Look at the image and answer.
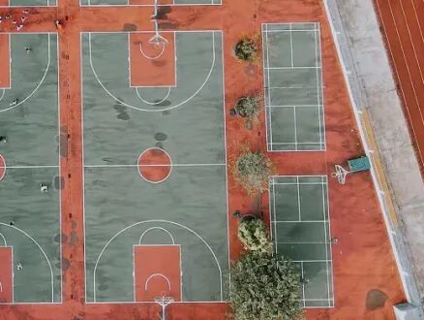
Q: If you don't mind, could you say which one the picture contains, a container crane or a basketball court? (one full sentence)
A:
There is a basketball court in the scene.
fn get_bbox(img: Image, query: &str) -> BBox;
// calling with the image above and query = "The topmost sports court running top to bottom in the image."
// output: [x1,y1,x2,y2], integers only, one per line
[262,22,327,152]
